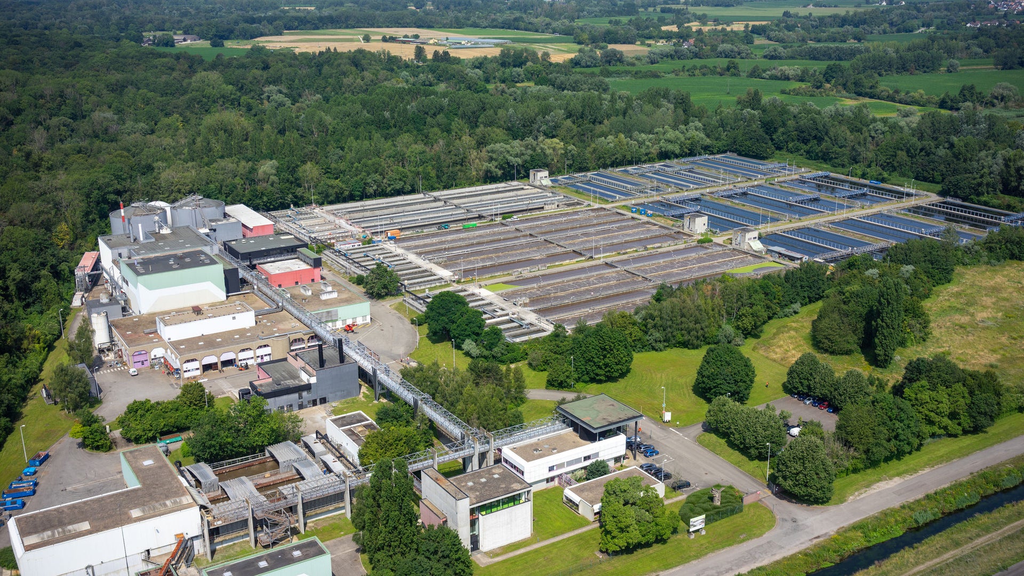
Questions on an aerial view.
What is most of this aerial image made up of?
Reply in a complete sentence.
The largest share of the image is taken up by trees.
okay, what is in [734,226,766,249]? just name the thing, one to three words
building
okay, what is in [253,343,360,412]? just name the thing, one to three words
building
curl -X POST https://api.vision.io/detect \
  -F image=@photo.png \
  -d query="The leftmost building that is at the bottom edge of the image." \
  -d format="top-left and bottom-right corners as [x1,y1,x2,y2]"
[8,443,205,576]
